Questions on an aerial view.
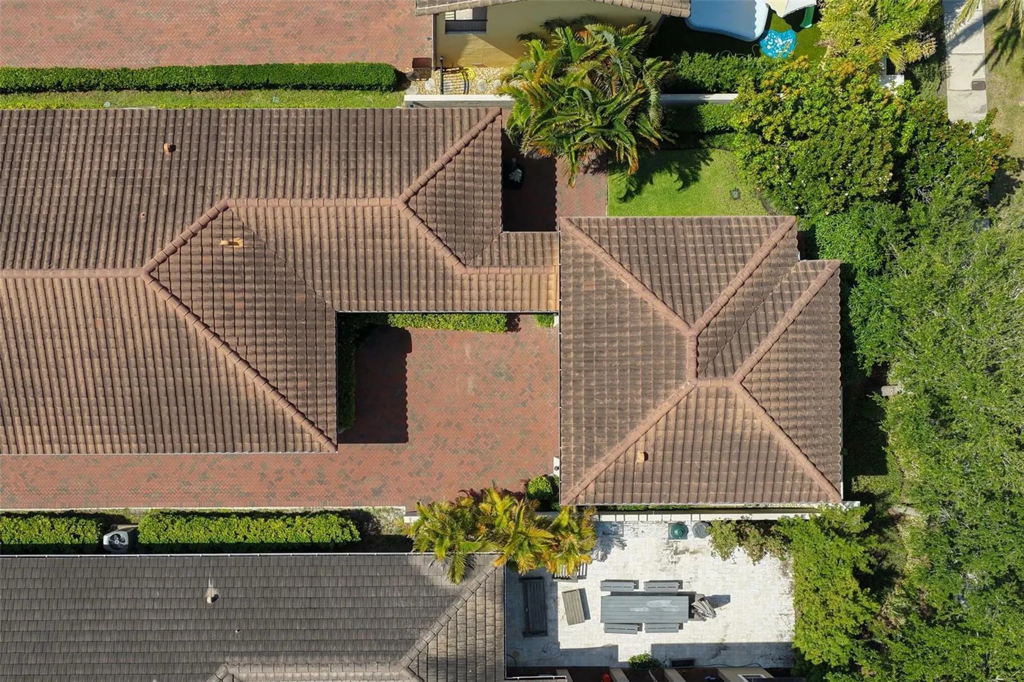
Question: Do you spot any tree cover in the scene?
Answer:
Yes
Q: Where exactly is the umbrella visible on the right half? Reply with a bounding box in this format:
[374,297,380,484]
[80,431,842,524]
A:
[693,595,718,621]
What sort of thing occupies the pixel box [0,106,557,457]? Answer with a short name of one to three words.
house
